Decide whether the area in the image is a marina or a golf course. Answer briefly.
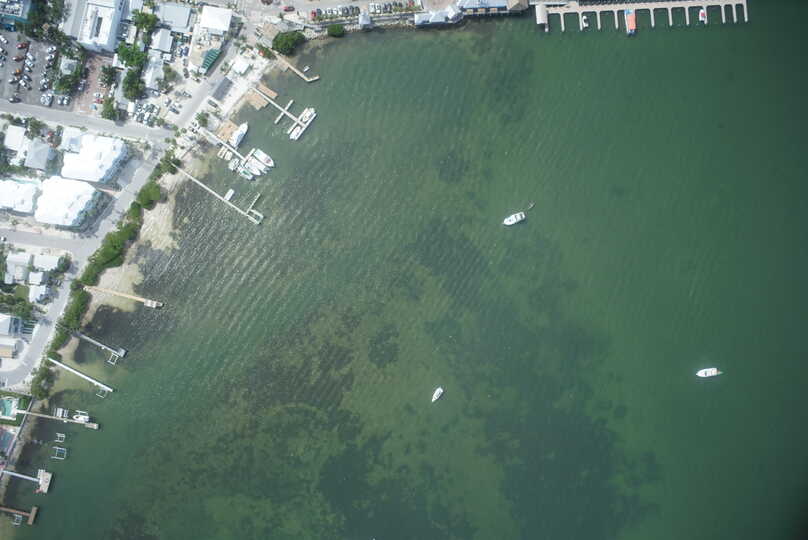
marina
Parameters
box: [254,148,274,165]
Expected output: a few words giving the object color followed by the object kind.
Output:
white boat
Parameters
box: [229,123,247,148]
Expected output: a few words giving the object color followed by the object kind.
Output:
white boat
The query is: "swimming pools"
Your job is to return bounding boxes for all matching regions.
[0,395,15,419]
[0,428,16,464]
